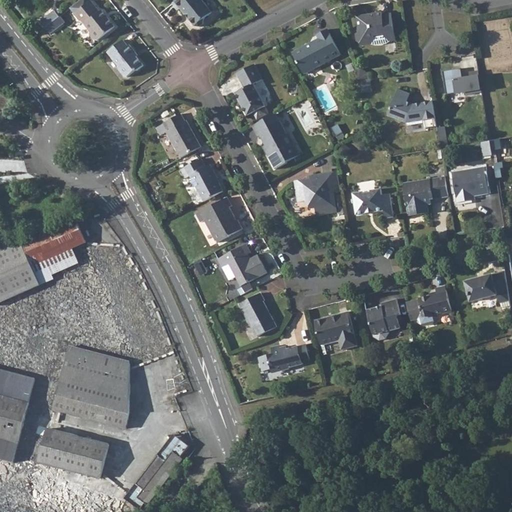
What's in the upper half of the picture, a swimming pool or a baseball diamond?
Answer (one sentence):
What appears in the upper half of the picture is a swimming pool.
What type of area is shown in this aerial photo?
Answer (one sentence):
What you see here is a residential area.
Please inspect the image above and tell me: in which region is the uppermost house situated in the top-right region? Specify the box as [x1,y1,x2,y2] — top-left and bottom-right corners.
[355,10,396,45]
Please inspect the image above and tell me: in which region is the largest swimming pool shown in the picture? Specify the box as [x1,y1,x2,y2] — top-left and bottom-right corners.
[314,84,338,116]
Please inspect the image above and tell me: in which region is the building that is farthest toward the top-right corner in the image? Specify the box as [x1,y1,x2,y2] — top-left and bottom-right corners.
[444,68,481,98]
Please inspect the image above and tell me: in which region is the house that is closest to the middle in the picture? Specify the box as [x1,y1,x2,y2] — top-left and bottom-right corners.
[216,243,269,300]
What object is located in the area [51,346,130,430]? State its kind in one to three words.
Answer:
building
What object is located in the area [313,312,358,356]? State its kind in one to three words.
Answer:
house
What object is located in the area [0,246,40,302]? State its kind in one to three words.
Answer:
building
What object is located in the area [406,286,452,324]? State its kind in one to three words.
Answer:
house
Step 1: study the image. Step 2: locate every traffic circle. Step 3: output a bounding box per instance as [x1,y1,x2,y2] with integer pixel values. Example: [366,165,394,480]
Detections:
[42,100,132,192]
